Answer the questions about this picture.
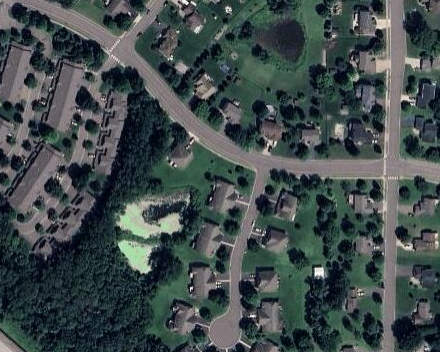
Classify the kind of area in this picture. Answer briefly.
residential area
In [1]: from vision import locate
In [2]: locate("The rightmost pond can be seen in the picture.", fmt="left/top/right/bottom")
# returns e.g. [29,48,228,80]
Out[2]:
[254,18,306,61]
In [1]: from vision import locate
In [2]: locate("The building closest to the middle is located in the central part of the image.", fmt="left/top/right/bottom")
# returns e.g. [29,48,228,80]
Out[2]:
[208,182,242,216]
